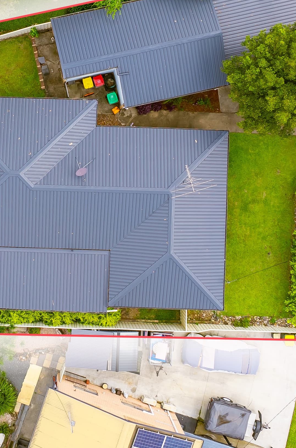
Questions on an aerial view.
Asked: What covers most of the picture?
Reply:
buildings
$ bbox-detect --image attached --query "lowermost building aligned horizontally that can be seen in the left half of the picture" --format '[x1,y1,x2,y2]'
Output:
[26,374,187,448]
